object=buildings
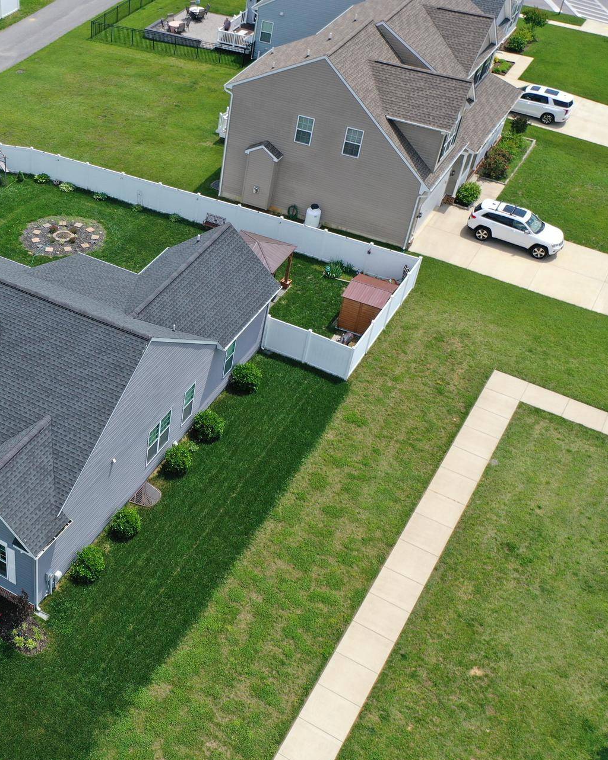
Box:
[0,221,285,617]
[335,276,395,337]
[218,0,537,253]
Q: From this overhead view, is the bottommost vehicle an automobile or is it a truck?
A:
automobile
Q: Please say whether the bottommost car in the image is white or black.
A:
white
